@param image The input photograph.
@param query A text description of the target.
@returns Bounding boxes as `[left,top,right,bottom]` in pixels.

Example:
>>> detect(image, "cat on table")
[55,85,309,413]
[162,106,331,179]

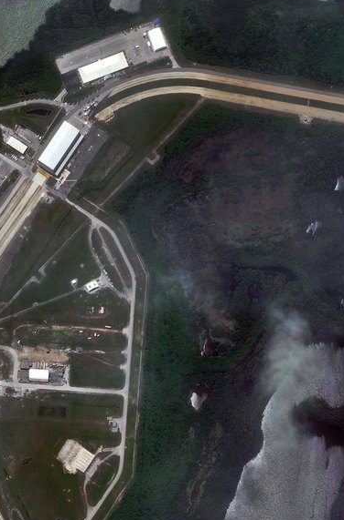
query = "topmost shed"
[147,27,167,51]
